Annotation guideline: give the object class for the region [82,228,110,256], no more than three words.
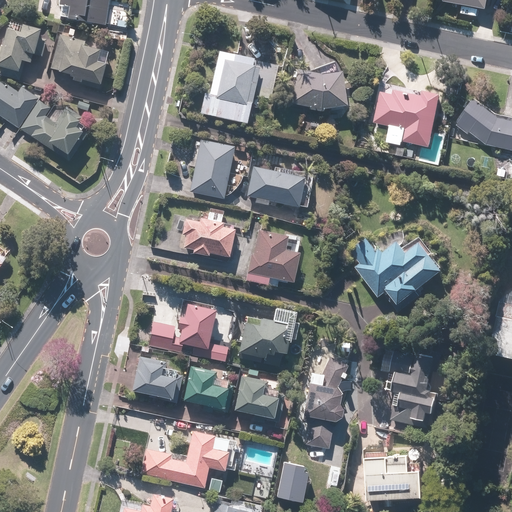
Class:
roundabout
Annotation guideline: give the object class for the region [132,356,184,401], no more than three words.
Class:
house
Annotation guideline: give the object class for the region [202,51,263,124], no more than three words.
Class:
house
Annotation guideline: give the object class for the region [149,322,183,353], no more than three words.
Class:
building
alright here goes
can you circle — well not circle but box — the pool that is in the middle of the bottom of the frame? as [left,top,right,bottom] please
[245,446,273,466]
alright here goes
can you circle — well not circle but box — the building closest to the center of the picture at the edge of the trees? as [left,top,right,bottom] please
[246,228,302,287]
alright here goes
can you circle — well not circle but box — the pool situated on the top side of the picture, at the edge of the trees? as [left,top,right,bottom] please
[420,132,442,162]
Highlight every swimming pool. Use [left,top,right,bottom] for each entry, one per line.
[420,132,442,162]
[245,446,273,466]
